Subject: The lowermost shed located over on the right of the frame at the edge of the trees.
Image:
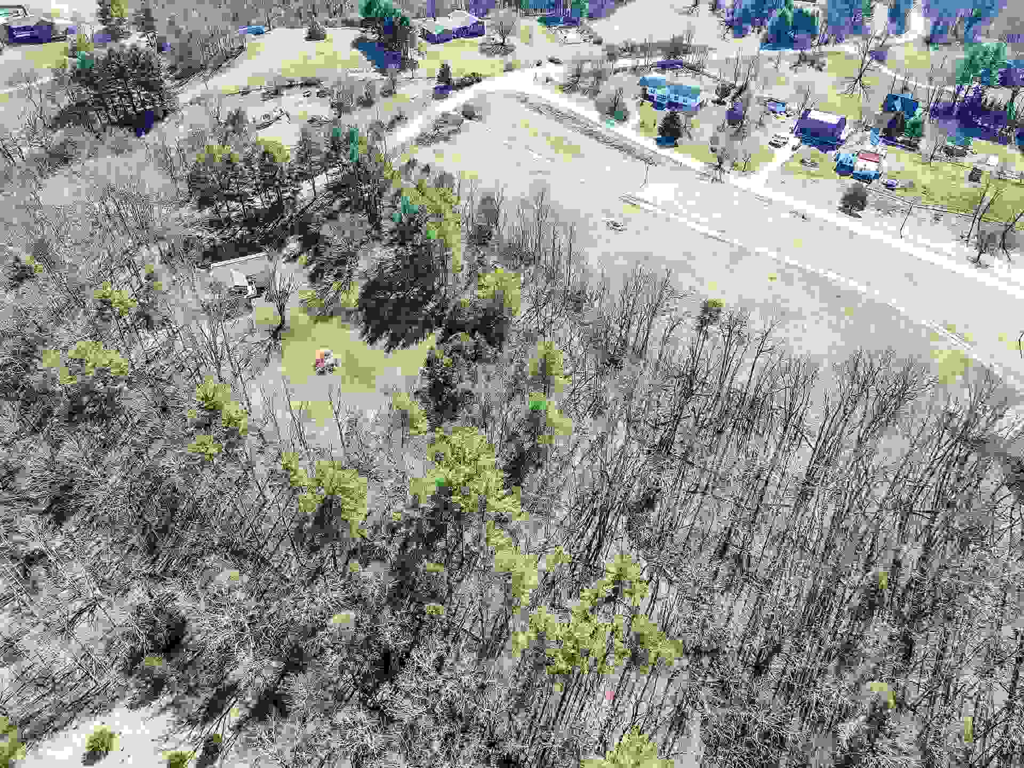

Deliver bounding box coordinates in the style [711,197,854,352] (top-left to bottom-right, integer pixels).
[852,156,884,181]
